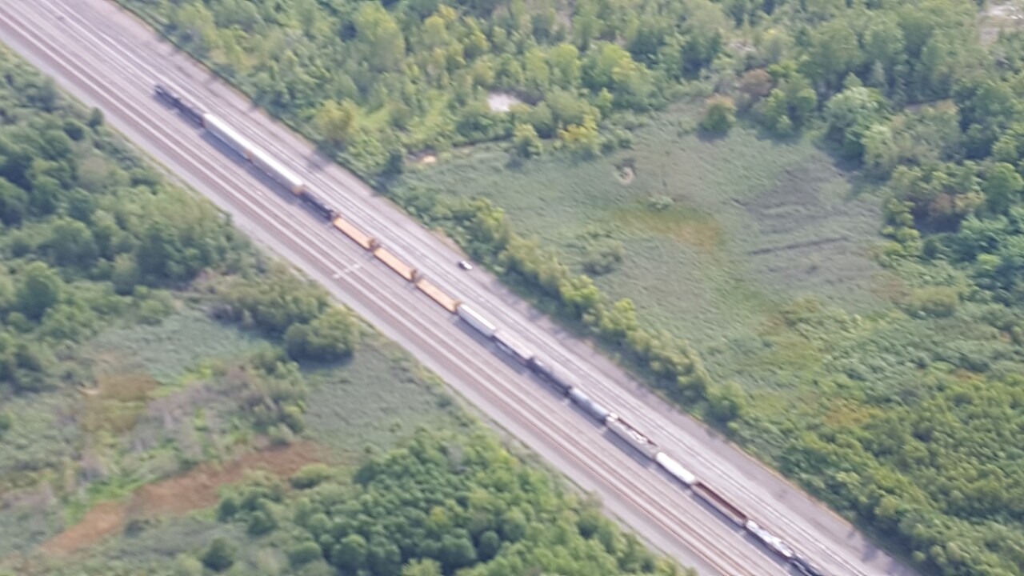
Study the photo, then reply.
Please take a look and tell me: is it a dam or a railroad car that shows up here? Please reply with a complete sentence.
This aerial view contains a railroad car.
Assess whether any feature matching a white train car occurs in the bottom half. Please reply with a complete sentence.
Yes, there is a white train car in the bottom half.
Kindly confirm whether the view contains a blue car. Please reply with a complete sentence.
No, the picture doesn't show any blue car.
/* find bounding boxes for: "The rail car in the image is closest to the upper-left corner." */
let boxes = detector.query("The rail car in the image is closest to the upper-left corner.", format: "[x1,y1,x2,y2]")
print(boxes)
[158,85,182,105]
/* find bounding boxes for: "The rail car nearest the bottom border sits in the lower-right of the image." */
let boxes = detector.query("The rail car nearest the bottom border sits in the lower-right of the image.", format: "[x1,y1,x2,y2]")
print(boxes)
[794,556,829,576]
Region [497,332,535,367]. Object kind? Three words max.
rail car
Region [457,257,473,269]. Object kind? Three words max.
vehicle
